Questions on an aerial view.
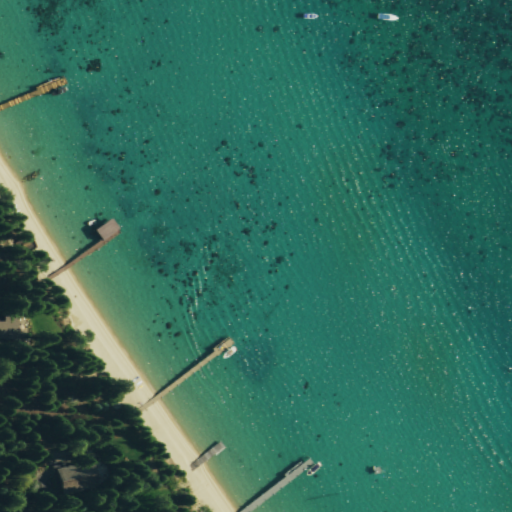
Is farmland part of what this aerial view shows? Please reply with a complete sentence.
No, the scene doesn't show any farmland.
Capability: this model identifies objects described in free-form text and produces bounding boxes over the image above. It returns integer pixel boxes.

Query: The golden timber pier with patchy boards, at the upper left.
[0,74,68,110]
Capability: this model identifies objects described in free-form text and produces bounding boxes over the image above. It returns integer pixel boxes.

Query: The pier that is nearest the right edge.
[242,458,314,512]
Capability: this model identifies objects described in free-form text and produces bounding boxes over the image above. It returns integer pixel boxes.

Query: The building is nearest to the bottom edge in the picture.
[58,466,84,490]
